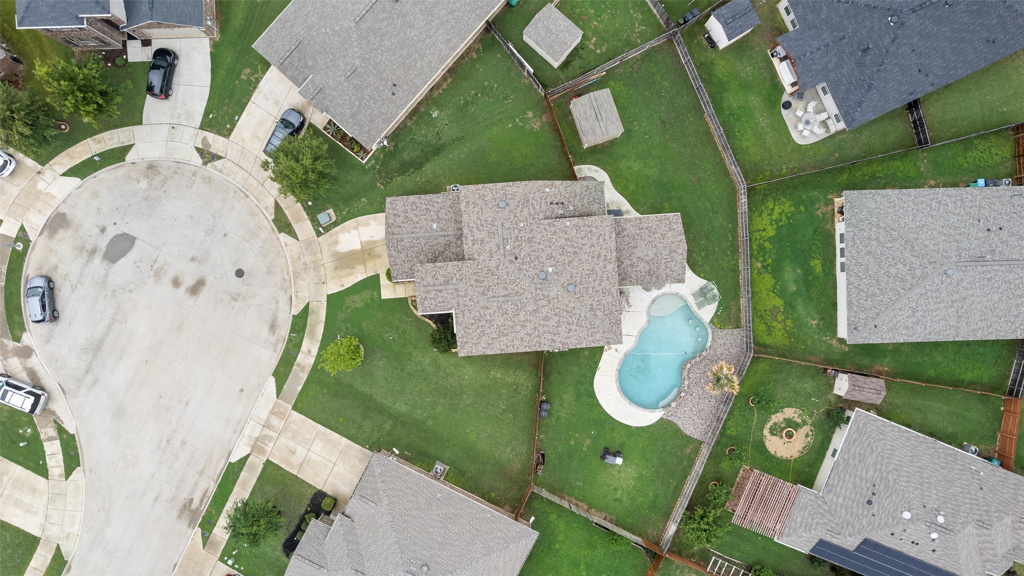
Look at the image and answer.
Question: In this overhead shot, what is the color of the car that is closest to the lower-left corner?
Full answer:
The color of the car that is closest to the lower-left corner is white.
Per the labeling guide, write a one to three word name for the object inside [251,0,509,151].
house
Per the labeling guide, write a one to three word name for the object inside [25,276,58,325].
car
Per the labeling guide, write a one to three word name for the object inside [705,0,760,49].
shed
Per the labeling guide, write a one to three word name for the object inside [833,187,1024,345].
house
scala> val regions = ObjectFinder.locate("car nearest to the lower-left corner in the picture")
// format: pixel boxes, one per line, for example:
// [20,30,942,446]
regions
[0,374,45,412]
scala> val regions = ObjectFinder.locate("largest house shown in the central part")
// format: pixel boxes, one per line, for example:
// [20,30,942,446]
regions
[385,180,687,356]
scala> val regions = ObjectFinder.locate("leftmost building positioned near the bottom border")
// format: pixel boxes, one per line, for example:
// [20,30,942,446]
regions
[283,447,540,576]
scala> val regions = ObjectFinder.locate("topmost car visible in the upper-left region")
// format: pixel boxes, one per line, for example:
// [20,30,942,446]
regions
[145,48,177,99]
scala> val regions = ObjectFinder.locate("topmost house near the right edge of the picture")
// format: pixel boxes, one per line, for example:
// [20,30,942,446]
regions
[772,0,1024,132]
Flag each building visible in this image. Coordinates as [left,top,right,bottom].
[571,89,624,147]
[15,0,217,49]
[283,447,540,576]
[772,0,1024,132]
[771,407,1024,576]
[385,180,687,356]
[833,187,1024,345]
[705,0,760,49]
[251,0,509,151]
[523,3,583,68]
[833,373,886,404]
